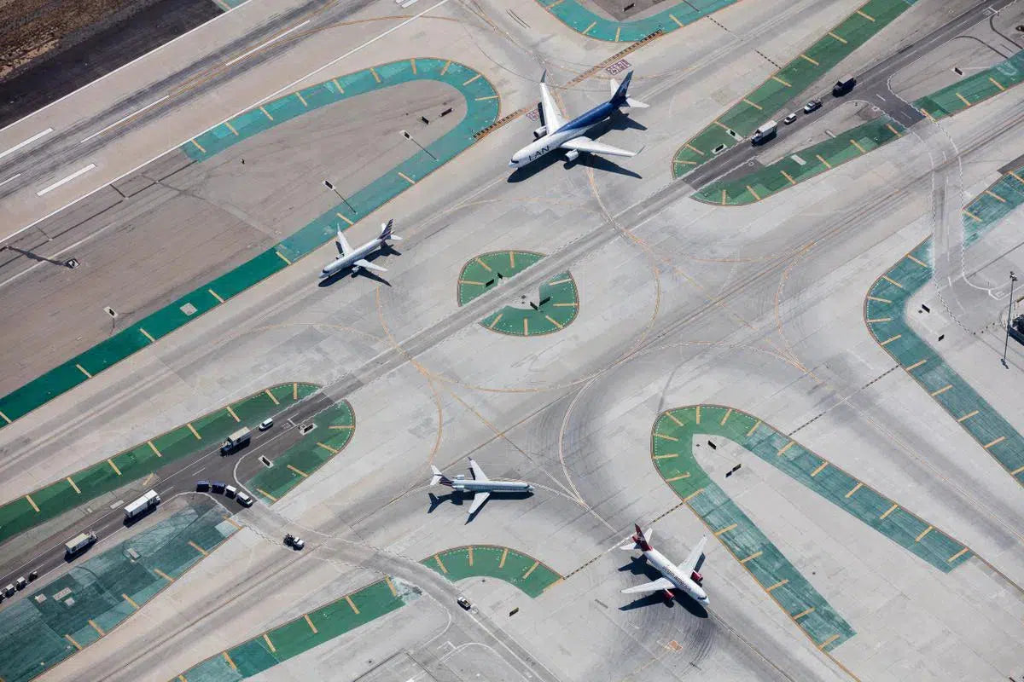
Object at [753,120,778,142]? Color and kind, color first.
white truck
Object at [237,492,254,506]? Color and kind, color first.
white car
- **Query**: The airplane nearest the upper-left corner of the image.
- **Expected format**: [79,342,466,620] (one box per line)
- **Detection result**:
[319,218,400,278]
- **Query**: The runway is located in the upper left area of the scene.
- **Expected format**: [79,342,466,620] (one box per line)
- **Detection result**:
[0,0,446,242]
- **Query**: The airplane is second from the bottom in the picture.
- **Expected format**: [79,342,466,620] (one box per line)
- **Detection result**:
[433,458,534,513]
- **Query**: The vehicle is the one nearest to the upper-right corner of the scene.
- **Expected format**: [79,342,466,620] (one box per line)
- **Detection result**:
[834,73,855,93]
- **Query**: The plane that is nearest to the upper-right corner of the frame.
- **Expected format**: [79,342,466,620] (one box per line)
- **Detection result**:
[509,69,645,167]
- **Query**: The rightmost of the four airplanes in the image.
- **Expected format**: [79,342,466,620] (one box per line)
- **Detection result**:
[619,524,709,604]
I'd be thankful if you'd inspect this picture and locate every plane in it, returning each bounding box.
[433,458,534,513]
[319,218,400,278]
[509,69,645,167]
[619,524,709,604]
